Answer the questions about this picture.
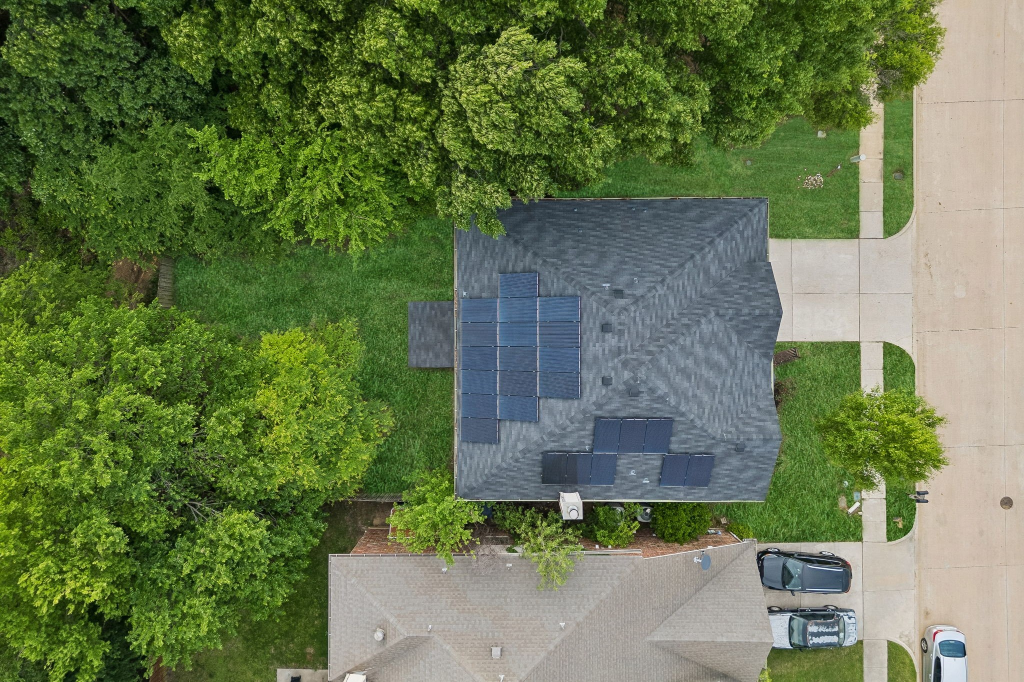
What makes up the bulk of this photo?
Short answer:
trees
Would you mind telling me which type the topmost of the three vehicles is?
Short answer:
car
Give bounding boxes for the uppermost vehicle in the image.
[759,545,859,598]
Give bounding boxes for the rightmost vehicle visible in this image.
[920,624,972,682]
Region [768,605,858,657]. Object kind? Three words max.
car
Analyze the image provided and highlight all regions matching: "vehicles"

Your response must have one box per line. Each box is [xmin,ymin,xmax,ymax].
[768,605,858,657]
[759,545,859,598]
[920,624,972,682]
